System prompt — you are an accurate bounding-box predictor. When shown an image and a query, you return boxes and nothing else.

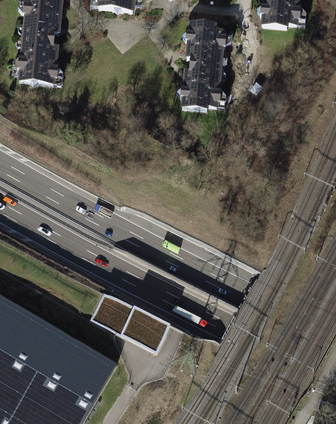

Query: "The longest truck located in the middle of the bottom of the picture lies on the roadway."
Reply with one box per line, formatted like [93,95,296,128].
[171,304,207,328]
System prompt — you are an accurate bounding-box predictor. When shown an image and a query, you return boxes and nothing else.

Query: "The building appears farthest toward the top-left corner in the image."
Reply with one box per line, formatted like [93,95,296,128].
[14,0,66,84]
